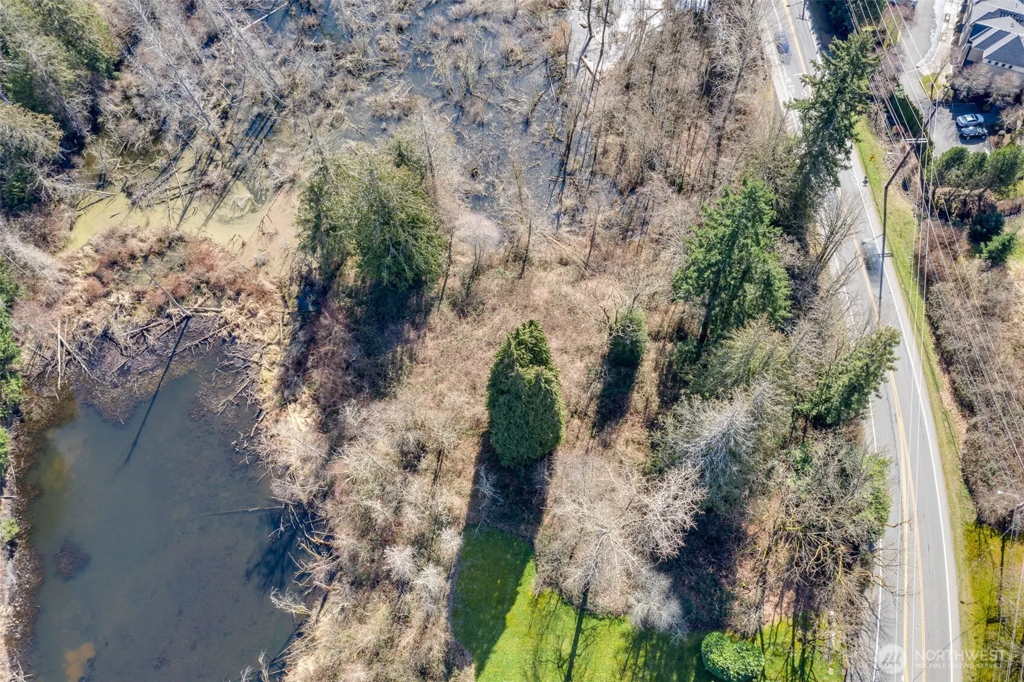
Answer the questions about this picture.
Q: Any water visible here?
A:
Yes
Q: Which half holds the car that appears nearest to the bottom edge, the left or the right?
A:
right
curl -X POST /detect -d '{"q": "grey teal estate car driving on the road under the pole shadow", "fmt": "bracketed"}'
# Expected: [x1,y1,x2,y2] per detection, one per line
[865,253,887,281]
